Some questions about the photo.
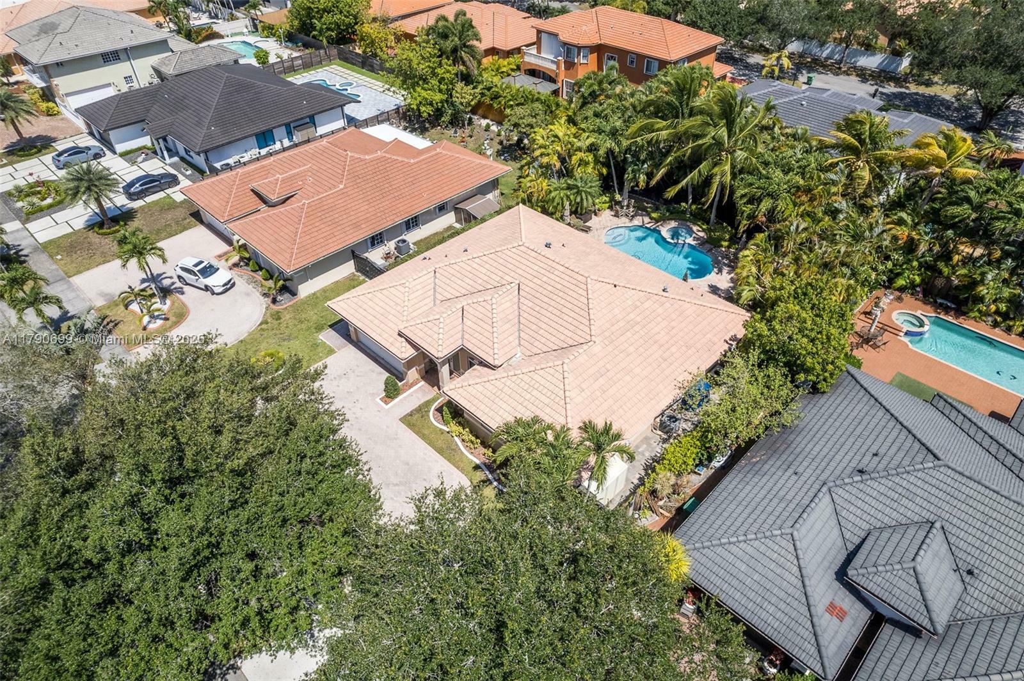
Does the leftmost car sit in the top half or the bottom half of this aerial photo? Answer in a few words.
top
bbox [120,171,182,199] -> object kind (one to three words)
car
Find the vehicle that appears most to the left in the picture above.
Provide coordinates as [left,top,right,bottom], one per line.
[45,143,107,168]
